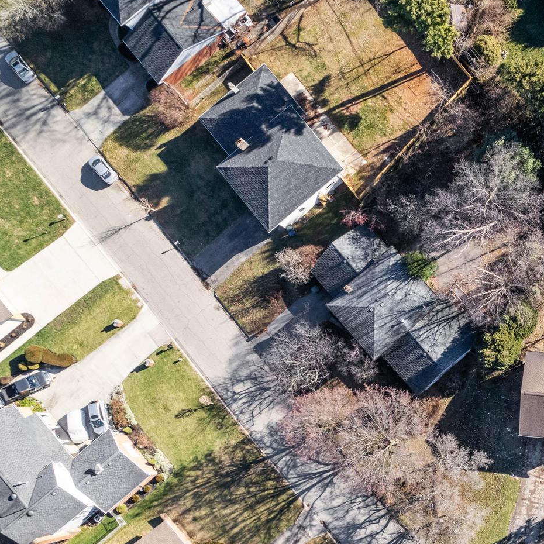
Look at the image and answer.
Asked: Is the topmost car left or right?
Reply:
left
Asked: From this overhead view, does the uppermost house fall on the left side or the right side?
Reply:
left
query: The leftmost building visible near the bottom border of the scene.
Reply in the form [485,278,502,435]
[0,378,160,544]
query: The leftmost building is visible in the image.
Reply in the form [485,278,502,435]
[0,295,26,337]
